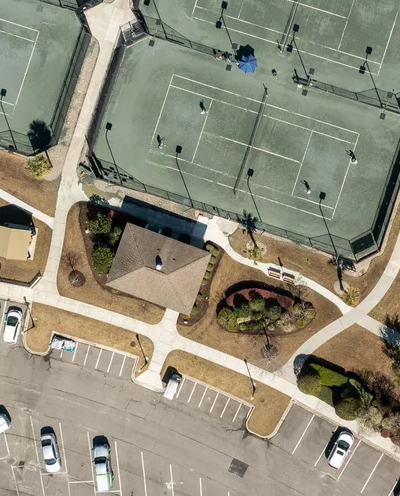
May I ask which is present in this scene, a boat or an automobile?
automobile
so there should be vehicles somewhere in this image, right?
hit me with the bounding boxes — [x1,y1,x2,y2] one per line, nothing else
[327,429,353,470]
[4,306,24,343]
[41,431,62,471]
[92,441,113,492]
[53,335,67,350]
[0,414,11,434]
[165,371,182,396]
